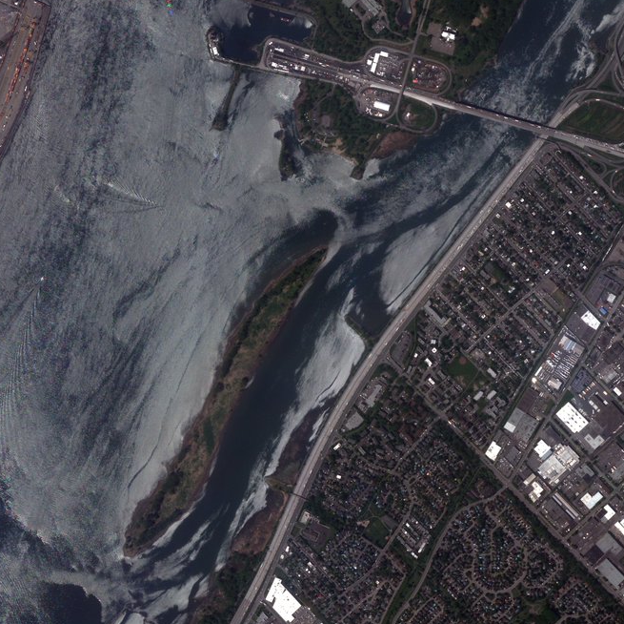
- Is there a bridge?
Yes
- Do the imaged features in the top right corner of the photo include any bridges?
Yes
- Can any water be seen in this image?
Yes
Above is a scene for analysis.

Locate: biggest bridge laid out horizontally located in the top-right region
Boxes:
[423,100,616,153]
